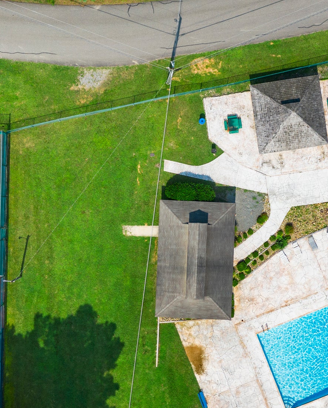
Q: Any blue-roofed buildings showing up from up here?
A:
No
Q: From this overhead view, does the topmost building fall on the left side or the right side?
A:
right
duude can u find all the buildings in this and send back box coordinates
[249,74,328,154]
[155,199,237,321]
